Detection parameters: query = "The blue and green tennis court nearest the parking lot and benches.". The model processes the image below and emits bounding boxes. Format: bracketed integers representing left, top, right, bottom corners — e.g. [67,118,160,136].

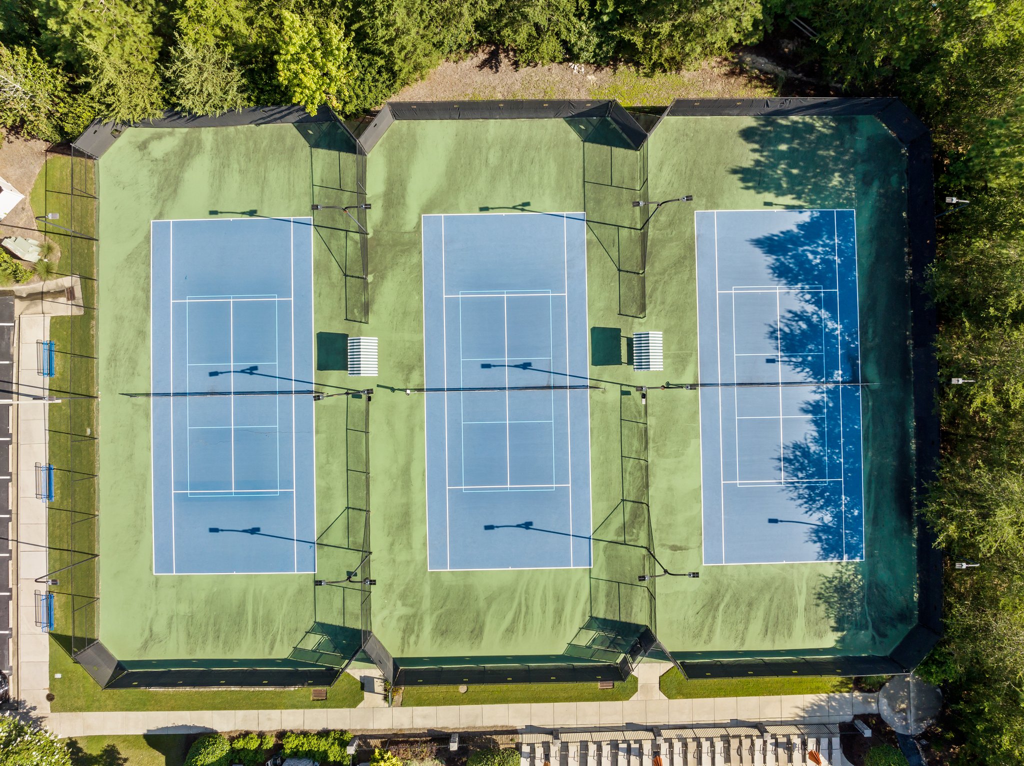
[94,120,370,673]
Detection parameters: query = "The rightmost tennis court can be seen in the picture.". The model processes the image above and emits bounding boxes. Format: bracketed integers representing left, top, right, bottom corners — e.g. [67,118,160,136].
[626,111,918,665]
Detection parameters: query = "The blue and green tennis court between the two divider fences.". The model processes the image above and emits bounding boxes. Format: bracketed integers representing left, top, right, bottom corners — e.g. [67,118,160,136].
[344,116,647,670]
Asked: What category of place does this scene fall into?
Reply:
sports ground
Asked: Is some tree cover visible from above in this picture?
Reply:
Yes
